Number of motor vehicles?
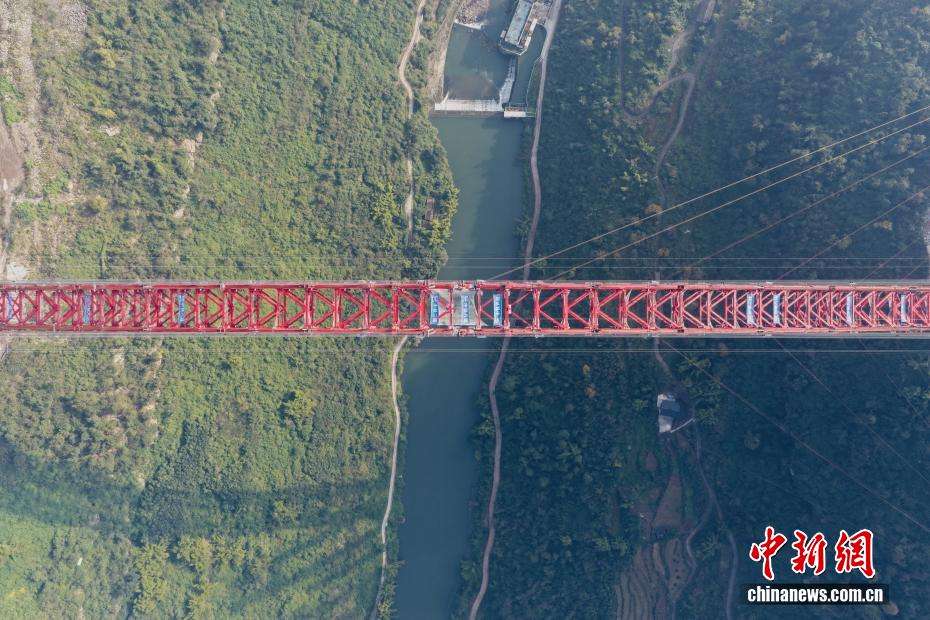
0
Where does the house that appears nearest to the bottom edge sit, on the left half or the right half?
right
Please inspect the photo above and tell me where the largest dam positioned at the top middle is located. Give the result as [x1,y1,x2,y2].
[431,91,503,117]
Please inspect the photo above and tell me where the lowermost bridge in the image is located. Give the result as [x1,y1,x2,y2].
[0,281,930,339]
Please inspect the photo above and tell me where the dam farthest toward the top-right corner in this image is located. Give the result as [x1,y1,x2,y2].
[500,56,518,107]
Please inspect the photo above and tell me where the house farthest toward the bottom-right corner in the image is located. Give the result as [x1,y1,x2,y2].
[658,394,680,432]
